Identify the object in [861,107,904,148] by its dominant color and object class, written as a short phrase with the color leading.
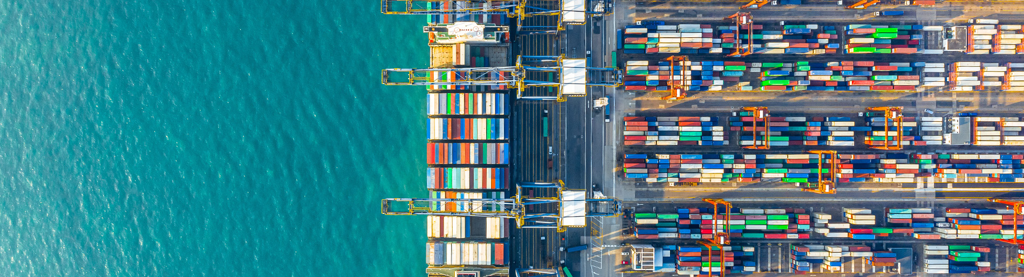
orange crane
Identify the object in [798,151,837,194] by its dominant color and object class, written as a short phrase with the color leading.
orange crane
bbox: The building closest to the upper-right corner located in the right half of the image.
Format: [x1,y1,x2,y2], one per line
[936,26,968,52]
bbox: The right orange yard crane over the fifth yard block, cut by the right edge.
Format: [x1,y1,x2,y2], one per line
[983,201,1024,245]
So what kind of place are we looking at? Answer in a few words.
port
